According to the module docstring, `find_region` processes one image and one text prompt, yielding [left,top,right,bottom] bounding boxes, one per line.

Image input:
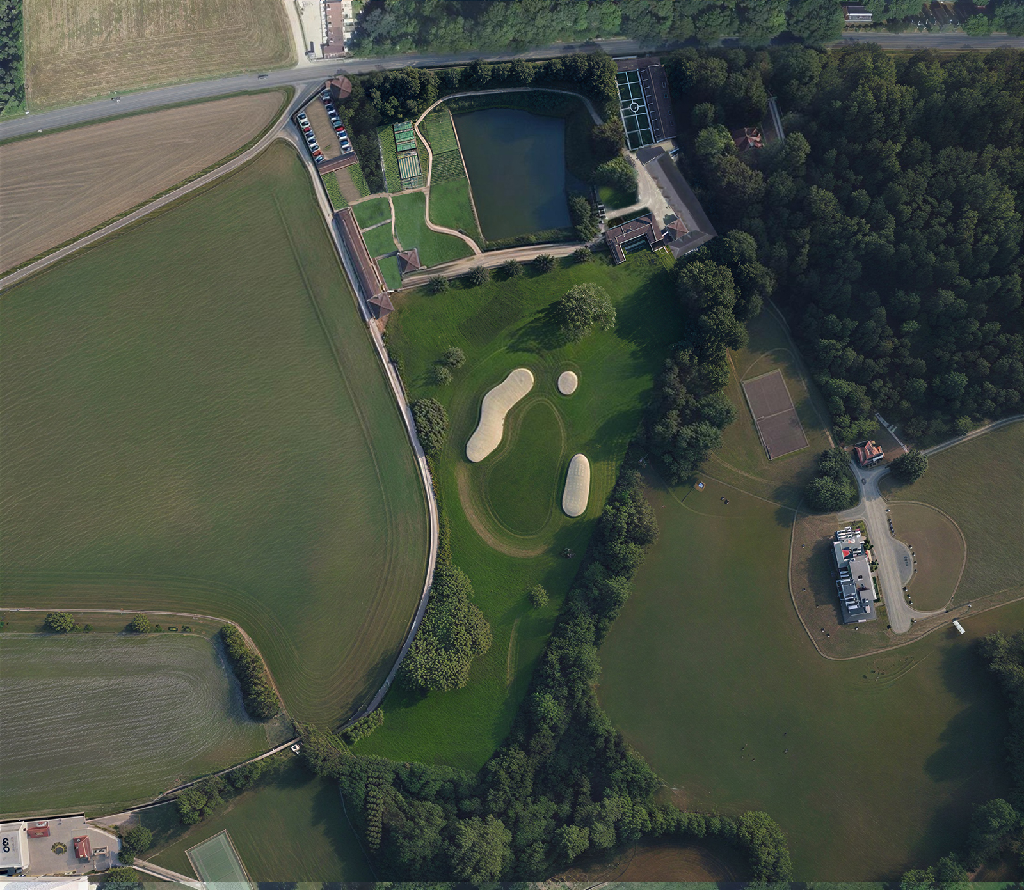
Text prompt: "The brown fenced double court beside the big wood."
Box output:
[741,369,809,459]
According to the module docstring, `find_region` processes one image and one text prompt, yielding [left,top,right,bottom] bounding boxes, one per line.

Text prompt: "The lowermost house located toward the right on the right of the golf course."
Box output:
[831,536,878,624]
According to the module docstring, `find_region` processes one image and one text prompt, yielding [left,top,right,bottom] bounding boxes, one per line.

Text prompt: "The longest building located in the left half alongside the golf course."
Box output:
[334,207,381,301]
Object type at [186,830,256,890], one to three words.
tennis court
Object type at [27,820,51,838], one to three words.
building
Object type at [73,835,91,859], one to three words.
house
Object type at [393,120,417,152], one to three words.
greenhouse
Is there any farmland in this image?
Yes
